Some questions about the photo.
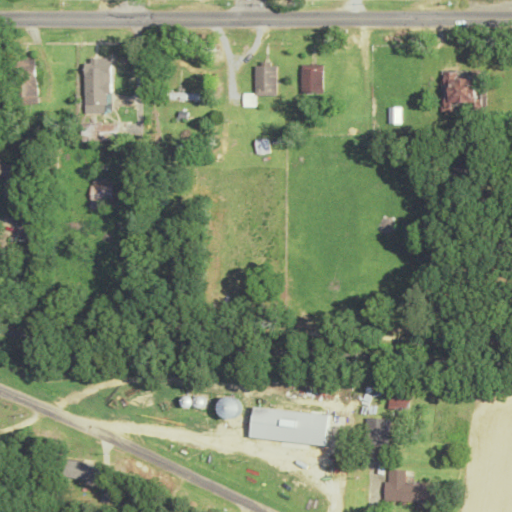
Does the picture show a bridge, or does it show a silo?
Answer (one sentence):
It is a silo that can be seen here.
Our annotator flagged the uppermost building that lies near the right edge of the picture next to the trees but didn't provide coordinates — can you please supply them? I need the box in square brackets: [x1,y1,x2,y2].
[446,68,490,111]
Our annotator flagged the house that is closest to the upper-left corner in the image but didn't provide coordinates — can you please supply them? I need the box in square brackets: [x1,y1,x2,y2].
[18,57,42,104]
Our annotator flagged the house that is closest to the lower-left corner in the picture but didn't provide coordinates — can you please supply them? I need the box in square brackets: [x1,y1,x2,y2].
[64,457,92,479]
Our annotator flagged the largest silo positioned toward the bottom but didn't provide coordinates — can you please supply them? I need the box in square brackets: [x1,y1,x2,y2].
[216,394,245,422]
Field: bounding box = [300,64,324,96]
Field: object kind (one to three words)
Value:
house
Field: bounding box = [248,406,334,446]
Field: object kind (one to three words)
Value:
barn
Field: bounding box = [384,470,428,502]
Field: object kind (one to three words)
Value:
house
